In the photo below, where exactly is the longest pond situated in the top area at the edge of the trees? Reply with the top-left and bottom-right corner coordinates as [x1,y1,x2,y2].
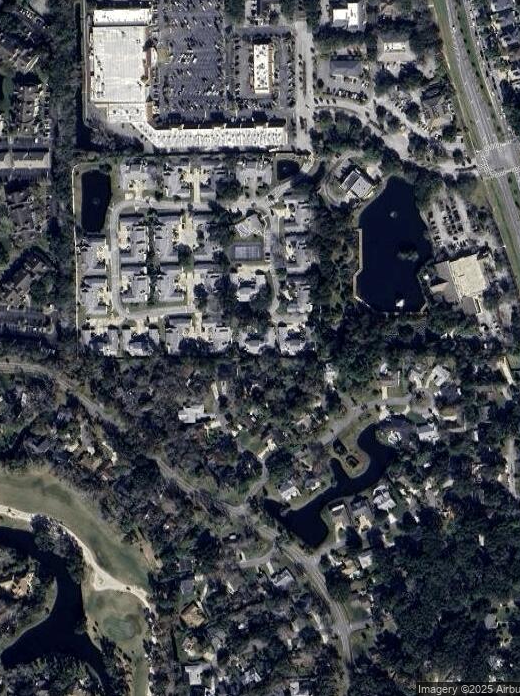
[79,169,112,232]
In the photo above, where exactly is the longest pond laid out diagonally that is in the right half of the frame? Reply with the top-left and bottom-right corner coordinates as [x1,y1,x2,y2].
[264,423,399,548]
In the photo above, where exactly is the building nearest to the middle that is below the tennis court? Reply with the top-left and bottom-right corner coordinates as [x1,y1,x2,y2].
[238,328,277,354]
